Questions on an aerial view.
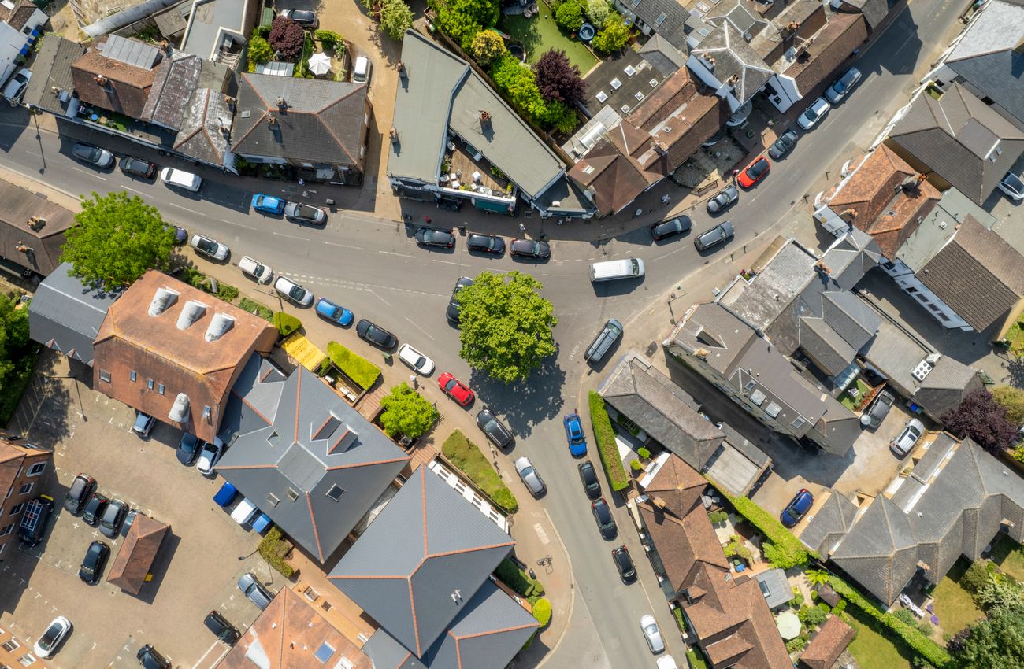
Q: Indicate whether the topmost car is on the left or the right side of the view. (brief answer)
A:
left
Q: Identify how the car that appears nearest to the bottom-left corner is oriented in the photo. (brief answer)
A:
on a diagonal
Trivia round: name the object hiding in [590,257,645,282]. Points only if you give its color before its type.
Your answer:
white vehicle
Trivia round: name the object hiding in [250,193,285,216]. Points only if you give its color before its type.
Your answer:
blue car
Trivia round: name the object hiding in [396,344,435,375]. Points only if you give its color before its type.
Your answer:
white car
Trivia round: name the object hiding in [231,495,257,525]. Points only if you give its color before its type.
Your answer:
white car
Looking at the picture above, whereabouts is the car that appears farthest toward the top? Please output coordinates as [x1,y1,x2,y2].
[282,4,320,28]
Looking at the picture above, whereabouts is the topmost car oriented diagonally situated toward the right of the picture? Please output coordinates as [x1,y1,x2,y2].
[822,63,867,104]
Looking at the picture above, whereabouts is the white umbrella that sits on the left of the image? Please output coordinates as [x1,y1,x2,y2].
[307,51,331,75]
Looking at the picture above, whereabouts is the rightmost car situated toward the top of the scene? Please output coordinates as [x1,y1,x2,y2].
[995,174,1024,208]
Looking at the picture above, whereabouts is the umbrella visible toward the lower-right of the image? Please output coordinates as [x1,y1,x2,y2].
[776,613,801,639]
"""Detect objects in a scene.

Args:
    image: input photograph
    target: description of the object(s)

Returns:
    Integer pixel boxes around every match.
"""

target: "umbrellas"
[776,613,801,639]
[659,193,671,204]
[307,51,331,75]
